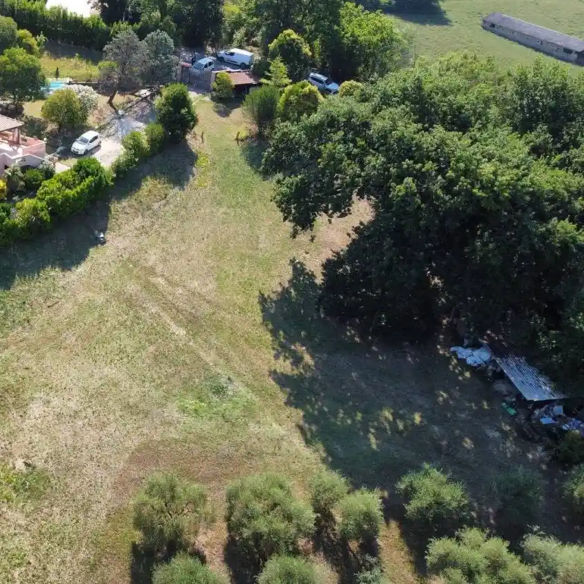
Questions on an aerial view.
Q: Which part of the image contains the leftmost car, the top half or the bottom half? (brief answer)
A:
top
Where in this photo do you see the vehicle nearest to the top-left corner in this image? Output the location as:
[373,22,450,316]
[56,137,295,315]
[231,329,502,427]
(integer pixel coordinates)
[72,124,105,151]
